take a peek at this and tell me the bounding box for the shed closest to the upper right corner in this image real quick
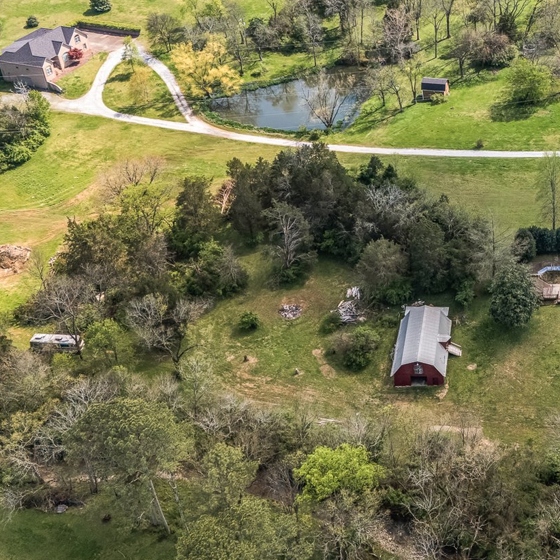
[422,84,446,101]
